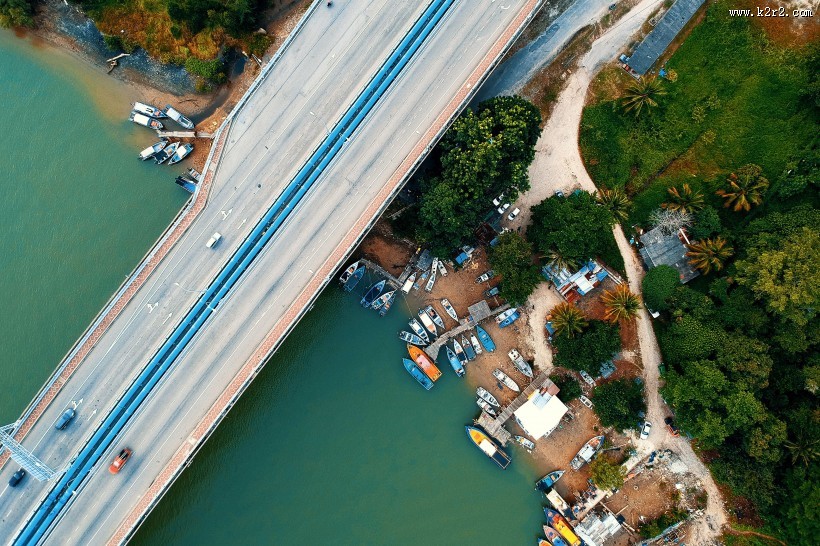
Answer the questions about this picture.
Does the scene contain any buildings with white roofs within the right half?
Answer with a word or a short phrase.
Yes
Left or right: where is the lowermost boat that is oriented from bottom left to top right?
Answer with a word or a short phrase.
right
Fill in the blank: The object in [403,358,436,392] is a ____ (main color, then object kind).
blue boat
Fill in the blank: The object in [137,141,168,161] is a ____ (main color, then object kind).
white boat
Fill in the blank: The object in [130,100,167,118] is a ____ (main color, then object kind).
white boat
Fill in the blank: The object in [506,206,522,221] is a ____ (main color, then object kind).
white car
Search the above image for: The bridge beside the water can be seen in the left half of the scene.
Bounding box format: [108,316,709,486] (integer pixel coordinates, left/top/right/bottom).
[0,0,546,546]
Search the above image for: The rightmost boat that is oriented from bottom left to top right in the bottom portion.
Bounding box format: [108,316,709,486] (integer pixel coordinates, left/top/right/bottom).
[570,436,605,472]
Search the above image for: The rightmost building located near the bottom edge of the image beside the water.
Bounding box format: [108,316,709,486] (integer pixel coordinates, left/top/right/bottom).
[574,510,622,546]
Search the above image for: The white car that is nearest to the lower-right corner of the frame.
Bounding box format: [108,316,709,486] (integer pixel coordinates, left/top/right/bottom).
[641,423,654,440]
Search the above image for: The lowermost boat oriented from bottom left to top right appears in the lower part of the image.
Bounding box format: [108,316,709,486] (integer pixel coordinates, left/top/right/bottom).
[536,470,565,492]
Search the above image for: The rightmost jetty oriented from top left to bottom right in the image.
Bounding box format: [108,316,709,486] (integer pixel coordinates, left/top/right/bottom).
[475,410,511,444]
